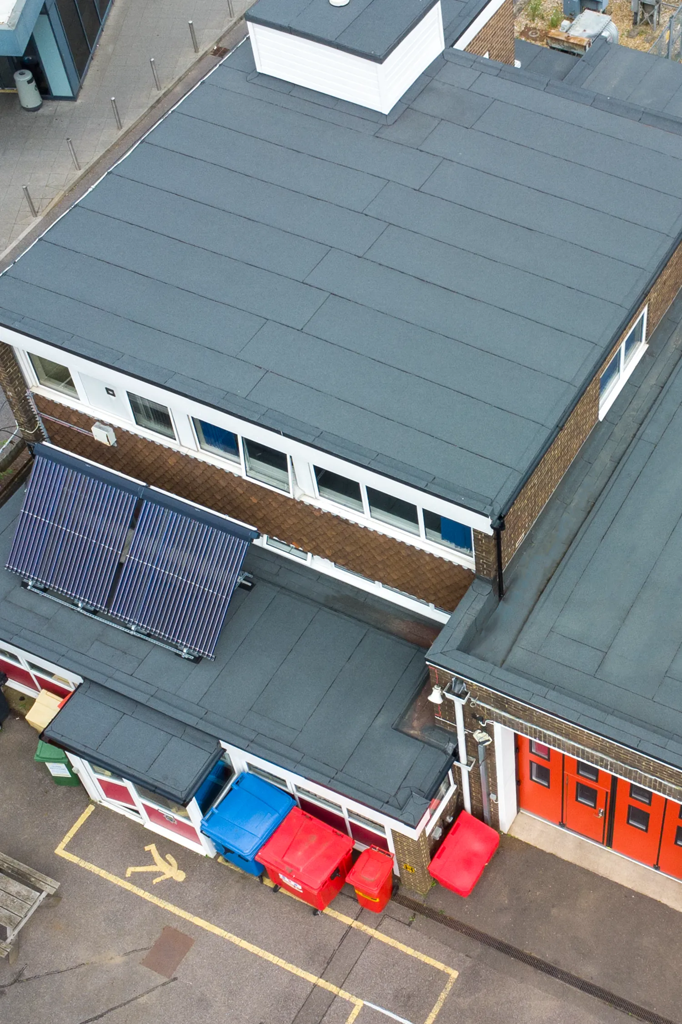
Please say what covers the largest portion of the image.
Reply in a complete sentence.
The bulk of the photo consists of buildings.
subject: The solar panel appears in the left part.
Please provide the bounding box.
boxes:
[7,435,266,671]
